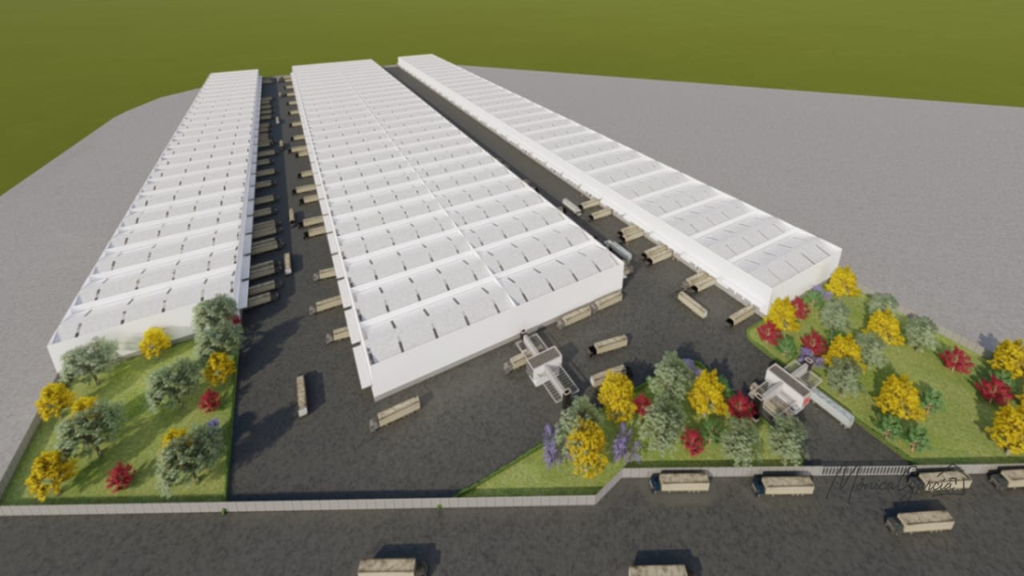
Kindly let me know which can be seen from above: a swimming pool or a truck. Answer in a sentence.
The one in the frame is a truck.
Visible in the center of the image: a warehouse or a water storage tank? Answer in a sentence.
It is a warehouse that can be seen in the center of the image.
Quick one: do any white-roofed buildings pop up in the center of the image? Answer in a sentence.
Yes, a white-roofed building shows up in the center of the image.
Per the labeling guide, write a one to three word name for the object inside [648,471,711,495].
truck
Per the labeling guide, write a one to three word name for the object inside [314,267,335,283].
vehicle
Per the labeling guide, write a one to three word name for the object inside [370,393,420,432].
truck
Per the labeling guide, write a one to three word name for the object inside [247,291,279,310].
vehicle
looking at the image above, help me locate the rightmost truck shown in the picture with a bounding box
[986,468,1024,491]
